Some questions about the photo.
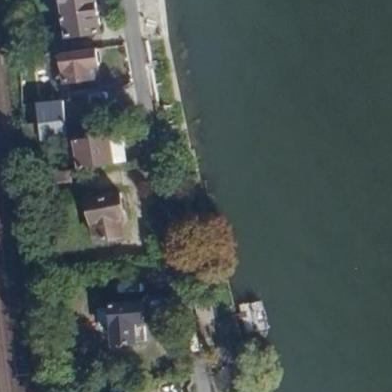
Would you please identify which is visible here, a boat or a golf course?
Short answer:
boat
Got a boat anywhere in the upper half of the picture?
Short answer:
No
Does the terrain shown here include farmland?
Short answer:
No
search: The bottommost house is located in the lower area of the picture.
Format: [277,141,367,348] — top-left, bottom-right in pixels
[107,296,152,344]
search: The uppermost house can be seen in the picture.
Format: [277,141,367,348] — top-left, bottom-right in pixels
[58,0,107,41]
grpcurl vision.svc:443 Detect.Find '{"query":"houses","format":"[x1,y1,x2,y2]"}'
[34,100,68,142]
[72,137,128,171]
[107,296,152,344]
[56,46,106,84]
[84,185,131,240]
[58,0,107,41]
